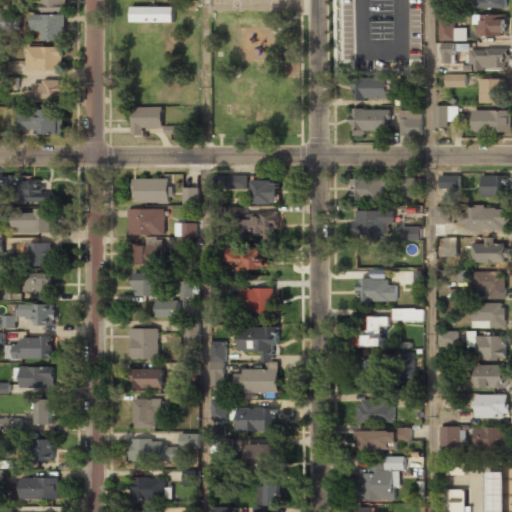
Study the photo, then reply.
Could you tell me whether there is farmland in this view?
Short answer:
No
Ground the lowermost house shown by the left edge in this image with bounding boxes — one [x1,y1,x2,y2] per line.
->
[16,478,60,500]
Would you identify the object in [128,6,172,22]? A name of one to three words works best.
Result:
shed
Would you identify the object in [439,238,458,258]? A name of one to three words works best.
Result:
building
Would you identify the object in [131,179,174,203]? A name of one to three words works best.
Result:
house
